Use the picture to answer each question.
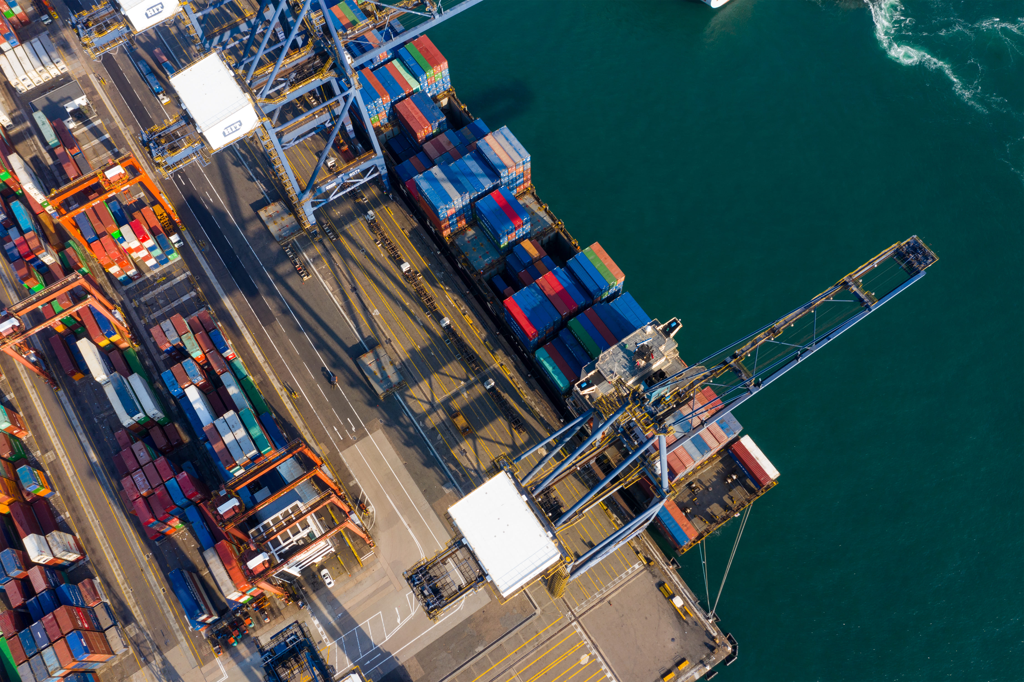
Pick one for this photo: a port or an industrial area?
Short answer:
port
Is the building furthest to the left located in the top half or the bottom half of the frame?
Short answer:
top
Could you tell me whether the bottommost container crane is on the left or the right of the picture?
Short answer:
left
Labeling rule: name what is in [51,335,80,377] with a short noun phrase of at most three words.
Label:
shipping container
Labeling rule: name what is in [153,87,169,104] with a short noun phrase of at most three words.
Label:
vehicle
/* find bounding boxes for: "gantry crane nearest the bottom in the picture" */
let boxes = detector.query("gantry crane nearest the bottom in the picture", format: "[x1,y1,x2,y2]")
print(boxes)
[241,605,377,682]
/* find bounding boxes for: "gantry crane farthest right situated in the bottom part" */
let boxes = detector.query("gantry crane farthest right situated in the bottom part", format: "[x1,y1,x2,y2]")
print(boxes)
[397,231,946,638]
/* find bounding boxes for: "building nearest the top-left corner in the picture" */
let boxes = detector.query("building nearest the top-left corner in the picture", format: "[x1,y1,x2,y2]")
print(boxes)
[29,79,100,143]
